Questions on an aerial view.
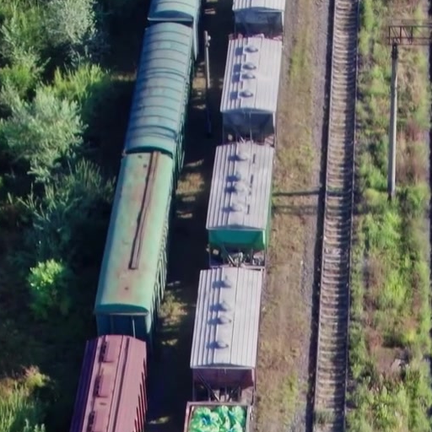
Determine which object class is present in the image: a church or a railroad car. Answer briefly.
railroad car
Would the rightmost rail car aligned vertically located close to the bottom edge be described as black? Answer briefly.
No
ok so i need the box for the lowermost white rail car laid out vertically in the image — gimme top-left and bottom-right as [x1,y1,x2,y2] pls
[190,267,266,425]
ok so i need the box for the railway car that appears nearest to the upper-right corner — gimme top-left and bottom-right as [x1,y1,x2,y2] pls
[231,0,291,55]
